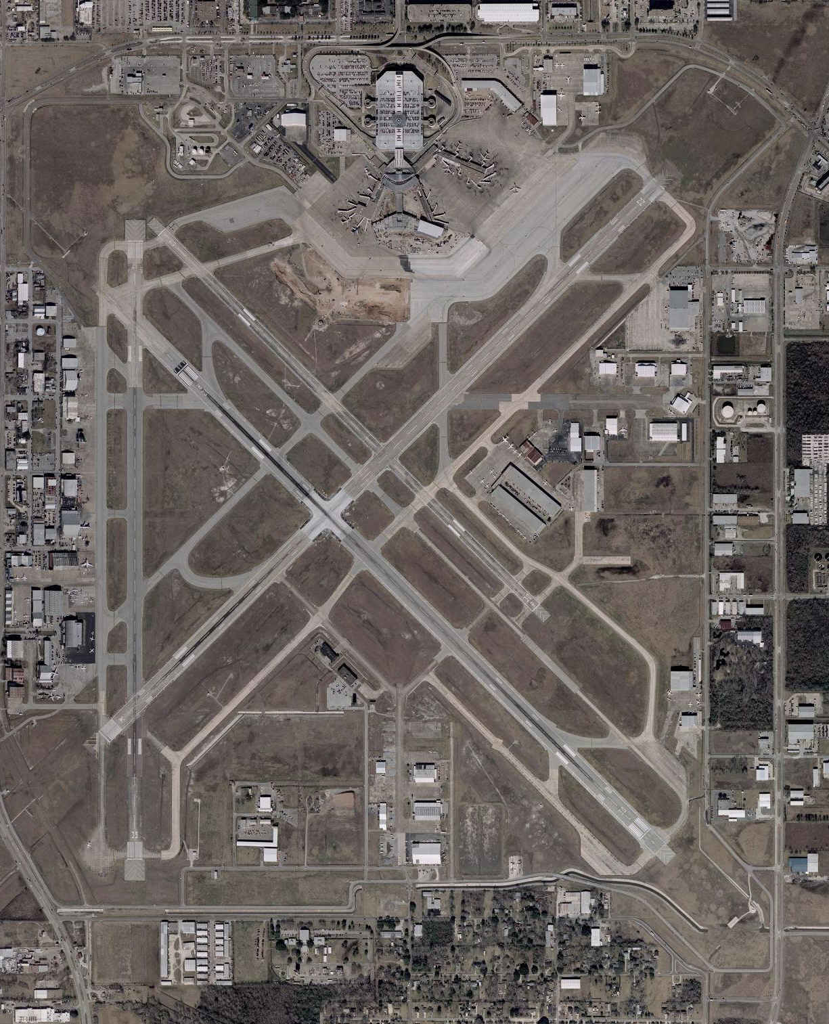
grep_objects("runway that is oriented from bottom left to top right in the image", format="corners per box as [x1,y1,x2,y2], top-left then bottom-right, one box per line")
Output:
[81,172,669,745]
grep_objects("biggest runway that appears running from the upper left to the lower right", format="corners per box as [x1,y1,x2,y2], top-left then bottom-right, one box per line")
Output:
[94,281,671,860]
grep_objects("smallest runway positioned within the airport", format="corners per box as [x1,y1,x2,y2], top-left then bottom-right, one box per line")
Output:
[140,210,547,619]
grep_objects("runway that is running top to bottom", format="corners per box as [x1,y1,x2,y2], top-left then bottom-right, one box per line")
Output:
[125,219,146,881]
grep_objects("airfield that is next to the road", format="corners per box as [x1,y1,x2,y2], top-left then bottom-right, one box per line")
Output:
[6,106,702,881]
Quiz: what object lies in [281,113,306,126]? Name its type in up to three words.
hangar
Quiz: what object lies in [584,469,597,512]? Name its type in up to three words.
hangar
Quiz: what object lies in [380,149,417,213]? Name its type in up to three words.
building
